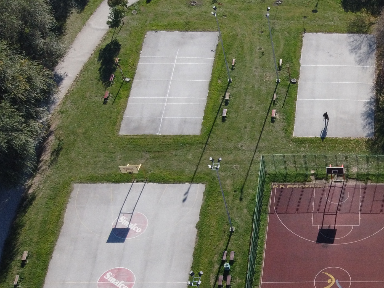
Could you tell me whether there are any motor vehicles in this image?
No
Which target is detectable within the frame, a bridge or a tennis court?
tennis court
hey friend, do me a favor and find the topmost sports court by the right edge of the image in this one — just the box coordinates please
[294,33,376,137]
